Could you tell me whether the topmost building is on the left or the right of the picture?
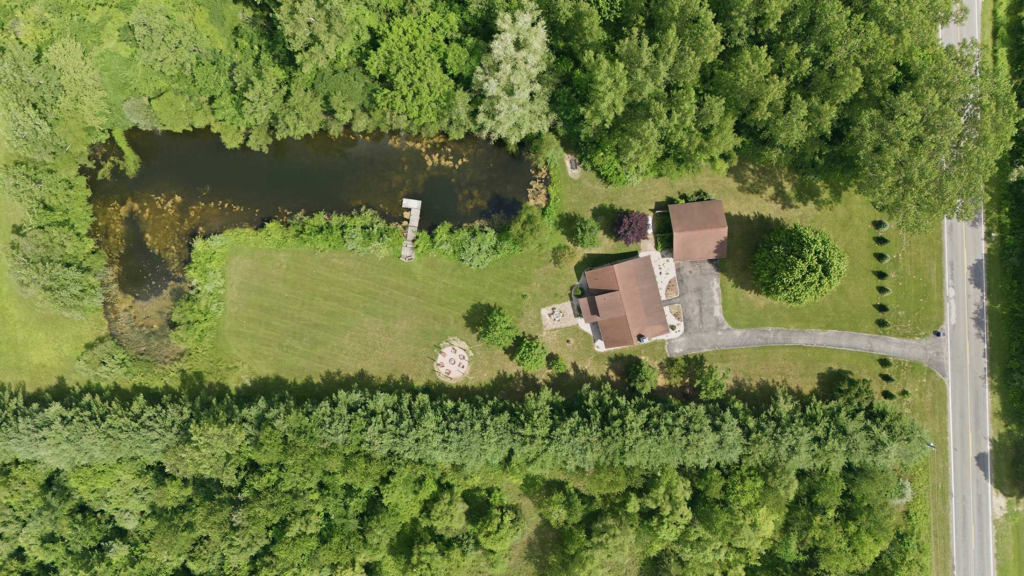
right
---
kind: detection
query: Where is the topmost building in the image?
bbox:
[667,199,728,262]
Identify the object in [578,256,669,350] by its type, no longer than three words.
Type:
house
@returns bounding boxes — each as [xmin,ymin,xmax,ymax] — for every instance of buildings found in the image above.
[578,256,669,350]
[667,199,728,262]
